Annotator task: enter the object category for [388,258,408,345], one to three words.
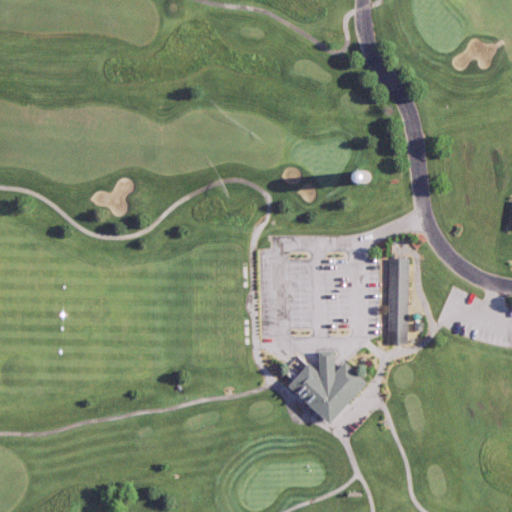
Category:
shed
